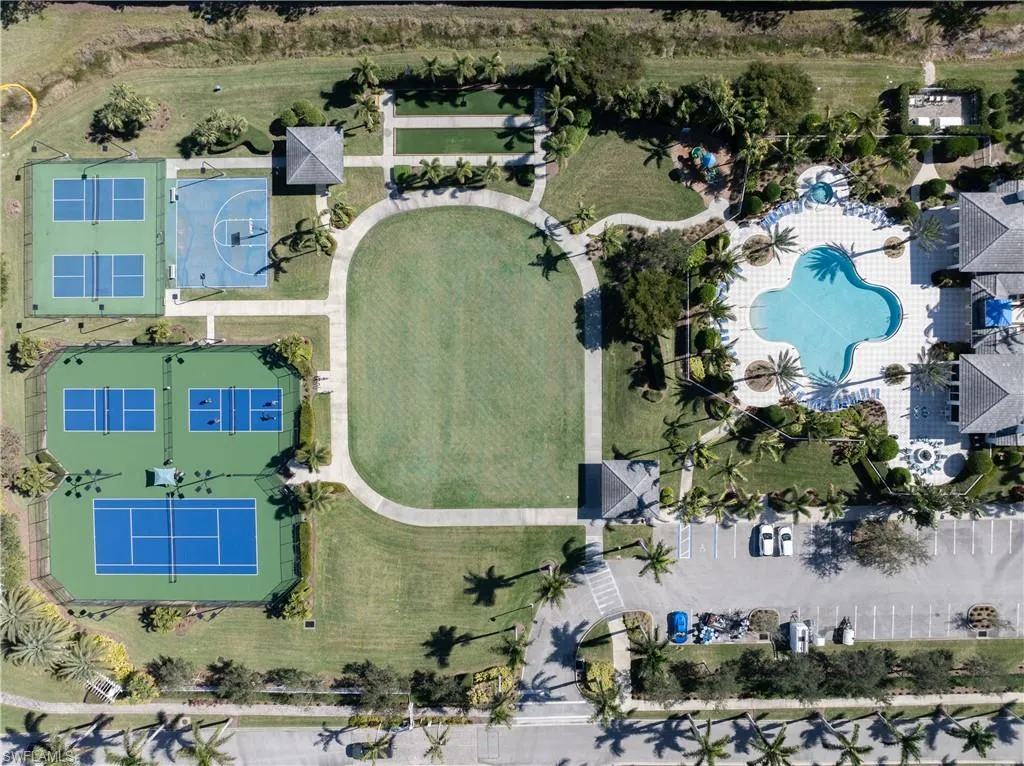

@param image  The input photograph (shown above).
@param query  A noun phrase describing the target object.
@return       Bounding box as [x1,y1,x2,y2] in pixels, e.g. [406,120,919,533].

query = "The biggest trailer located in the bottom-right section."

[787,610,810,658]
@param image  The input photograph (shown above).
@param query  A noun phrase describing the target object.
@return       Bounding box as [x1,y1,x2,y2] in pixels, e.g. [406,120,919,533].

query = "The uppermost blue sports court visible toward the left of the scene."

[52,175,144,226]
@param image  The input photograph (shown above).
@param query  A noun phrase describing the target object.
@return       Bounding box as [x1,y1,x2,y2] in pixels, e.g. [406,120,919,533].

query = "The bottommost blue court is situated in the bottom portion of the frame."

[92,492,257,582]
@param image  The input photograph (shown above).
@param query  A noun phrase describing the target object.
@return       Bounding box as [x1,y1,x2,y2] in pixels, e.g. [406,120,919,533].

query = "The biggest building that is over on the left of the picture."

[286,126,344,186]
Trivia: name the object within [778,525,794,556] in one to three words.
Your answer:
car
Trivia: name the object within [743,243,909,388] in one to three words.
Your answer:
swimming pool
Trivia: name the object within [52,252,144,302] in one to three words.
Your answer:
sports court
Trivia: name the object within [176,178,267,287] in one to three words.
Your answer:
basketball court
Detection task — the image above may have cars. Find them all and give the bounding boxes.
[758,523,774,555]
[351,741,385,759]
[673,611,689,643]
[778,525,794,556]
